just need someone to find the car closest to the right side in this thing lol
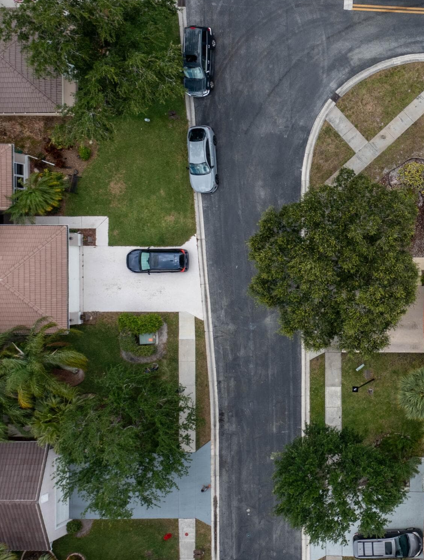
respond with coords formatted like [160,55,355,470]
[346,527,421,560]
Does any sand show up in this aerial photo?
No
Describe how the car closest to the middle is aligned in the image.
from side to side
